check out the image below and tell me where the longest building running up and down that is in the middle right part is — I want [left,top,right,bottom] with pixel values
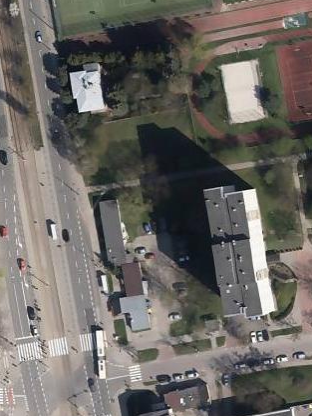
[204,186,275,318]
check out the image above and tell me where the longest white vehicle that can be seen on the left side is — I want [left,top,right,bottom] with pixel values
[96,329,109,379]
